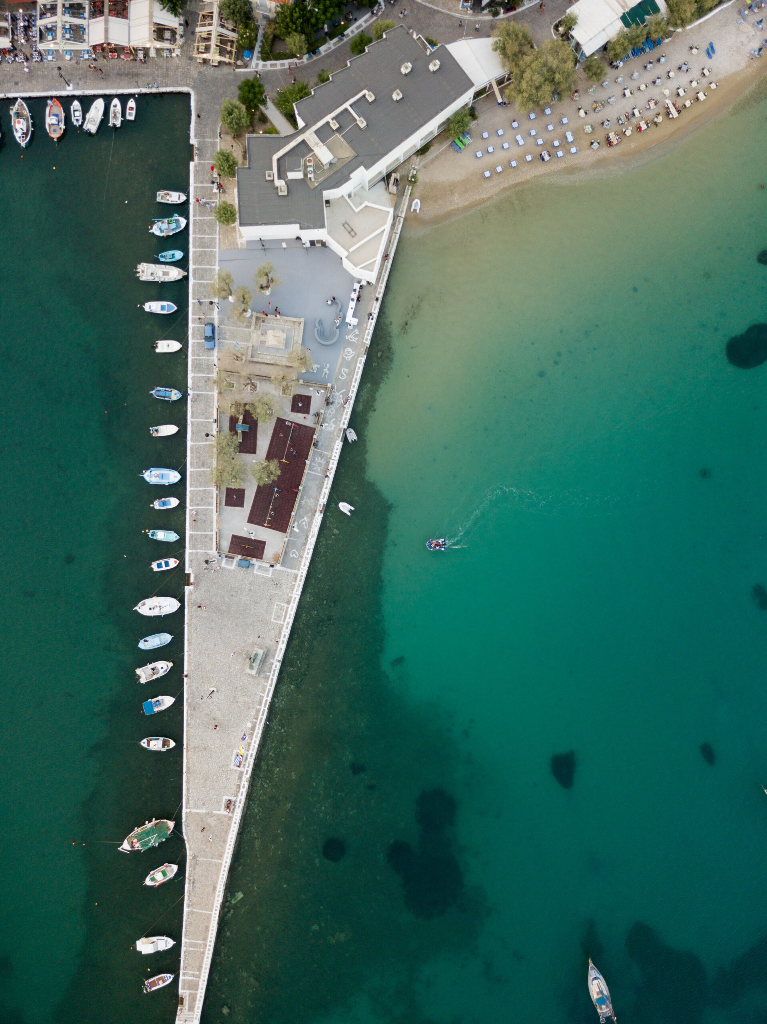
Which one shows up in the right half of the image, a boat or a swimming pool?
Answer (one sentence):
What appears in the right half of the image is a boat.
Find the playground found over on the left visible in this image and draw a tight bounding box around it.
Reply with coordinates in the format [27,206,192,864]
[218,371,327,562]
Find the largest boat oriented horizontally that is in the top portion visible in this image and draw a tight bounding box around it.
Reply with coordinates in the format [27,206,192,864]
[138,263,188,282]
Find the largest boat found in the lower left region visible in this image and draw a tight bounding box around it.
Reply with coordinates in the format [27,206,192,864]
[120,819,175,852]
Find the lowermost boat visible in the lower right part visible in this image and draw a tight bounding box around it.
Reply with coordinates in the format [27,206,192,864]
[586,951,615,1023]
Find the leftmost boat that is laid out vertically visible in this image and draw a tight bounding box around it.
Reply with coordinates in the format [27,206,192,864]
[9,98,33,148]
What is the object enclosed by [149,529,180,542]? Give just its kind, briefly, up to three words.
boat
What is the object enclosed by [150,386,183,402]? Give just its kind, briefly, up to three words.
boat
